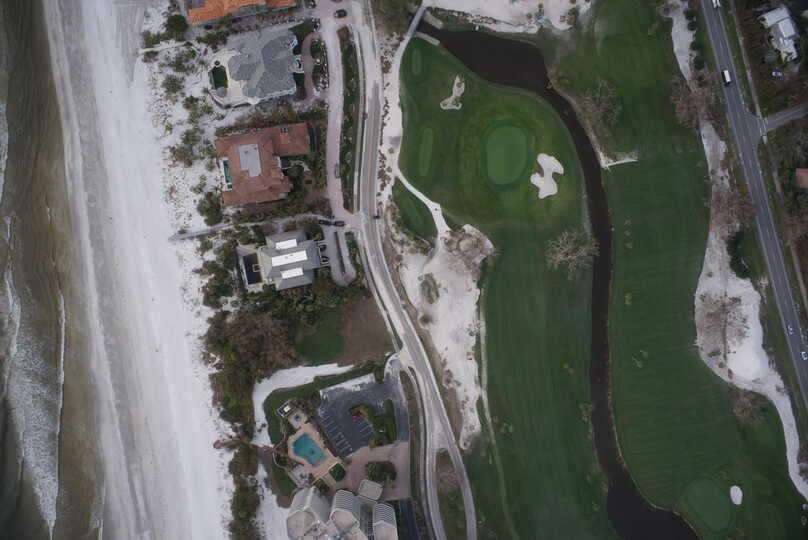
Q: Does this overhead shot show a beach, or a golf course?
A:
golf course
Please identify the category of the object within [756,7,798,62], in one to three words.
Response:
house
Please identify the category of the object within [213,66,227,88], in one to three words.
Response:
swimming pool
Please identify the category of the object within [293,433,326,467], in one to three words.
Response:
swimming pool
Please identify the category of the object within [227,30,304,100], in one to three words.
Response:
house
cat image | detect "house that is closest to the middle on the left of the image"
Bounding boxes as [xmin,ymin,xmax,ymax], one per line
[263,231,330,291]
